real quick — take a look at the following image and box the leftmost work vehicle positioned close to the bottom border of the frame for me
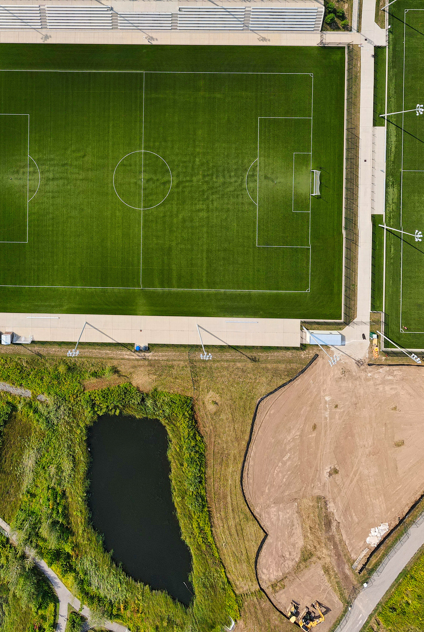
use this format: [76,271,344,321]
[286,599,301,621]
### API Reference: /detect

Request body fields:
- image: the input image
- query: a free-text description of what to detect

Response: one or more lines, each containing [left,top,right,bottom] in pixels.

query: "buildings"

[1,332,13,346]
[304,330,344,346]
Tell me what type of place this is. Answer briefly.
sports ground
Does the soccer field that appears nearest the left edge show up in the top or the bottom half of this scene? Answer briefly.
top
